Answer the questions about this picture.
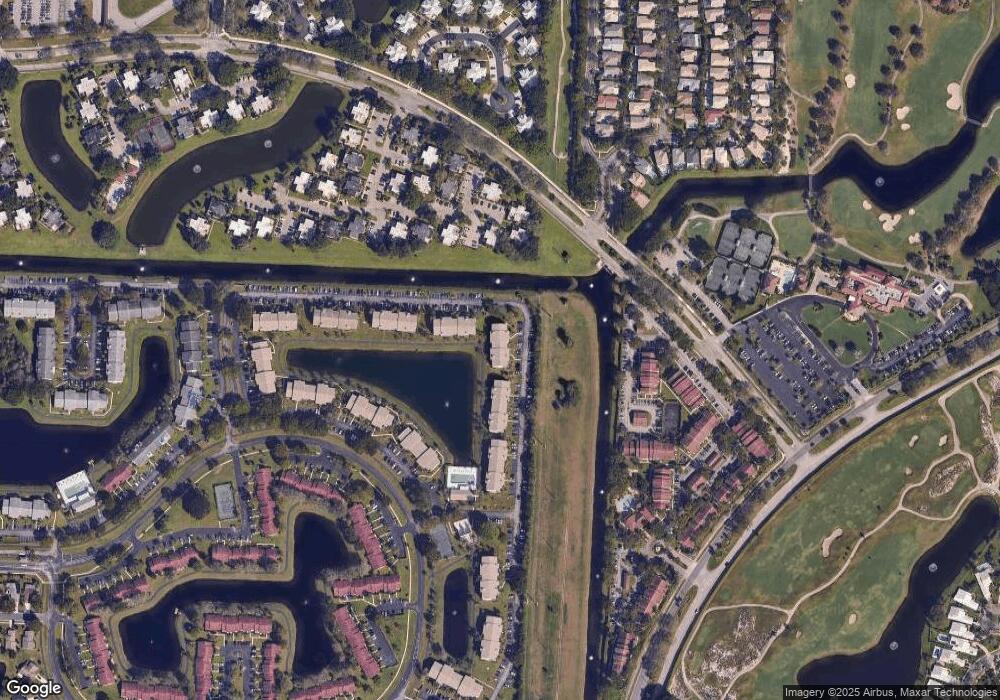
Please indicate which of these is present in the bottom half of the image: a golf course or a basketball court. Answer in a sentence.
The one visible in the bottom half of the image is a golf course.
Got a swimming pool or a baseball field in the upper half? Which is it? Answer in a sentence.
There is a swimming pool in the upper half.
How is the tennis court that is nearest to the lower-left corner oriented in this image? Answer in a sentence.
In this picture, the tennis court that is nearest to the lower-left corner lies from top to bottom.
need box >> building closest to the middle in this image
[489,324,510,367]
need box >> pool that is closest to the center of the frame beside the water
[447,467,477,489]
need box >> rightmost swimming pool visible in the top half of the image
[771,261,796,294]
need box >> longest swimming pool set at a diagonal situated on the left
[108,163,137,206]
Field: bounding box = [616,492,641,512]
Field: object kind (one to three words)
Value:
swimming pool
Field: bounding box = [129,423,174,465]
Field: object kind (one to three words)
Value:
building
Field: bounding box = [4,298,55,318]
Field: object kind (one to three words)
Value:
building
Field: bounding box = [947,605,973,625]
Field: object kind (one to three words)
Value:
house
